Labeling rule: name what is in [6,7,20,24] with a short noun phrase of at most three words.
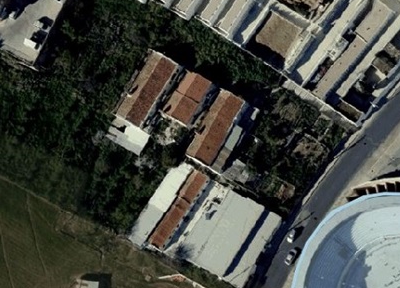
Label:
vehicle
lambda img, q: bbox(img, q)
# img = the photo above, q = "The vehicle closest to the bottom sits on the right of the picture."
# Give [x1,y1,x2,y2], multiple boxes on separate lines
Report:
[284,247,298,265]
